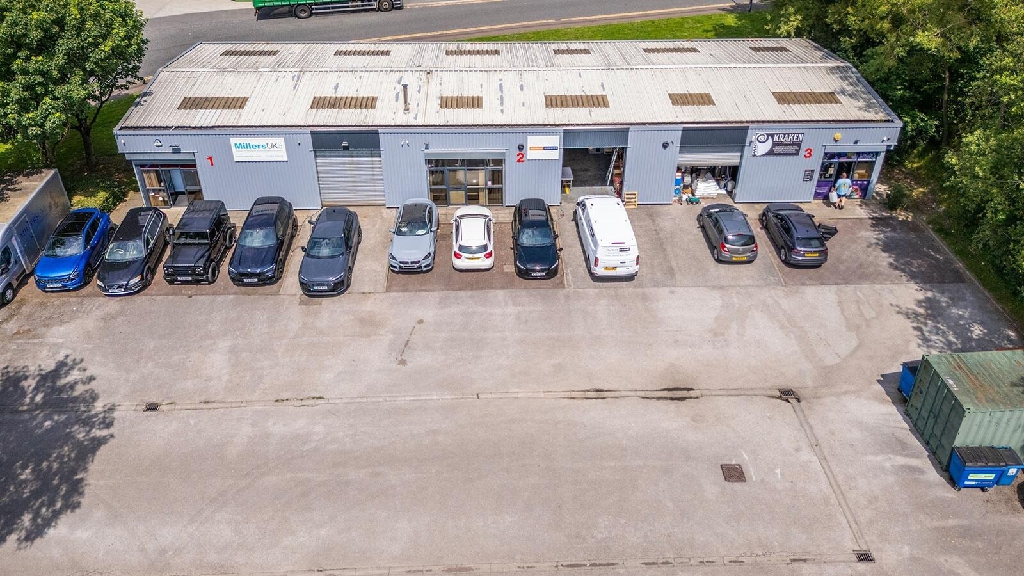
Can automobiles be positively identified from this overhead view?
Yes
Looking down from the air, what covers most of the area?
paved ground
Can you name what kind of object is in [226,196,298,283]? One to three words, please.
car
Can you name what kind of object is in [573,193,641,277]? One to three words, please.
van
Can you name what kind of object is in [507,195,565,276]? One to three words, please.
car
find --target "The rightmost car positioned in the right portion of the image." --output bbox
[759,199,841,263]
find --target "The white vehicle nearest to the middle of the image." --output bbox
[447,207,501,268]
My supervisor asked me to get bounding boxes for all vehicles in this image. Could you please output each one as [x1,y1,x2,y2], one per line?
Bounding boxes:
[226,196,298,283]
[94,204,174,292]
[759,199,841,263]
[296,206,362,295]
[0,167,73,298]
[702,202,763,260]
[447,207,501,268]
[573,193,641,277]
[255,0,412,18]
[507,195,565,276]
[25,205,113,288]
[383,200,441,273]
